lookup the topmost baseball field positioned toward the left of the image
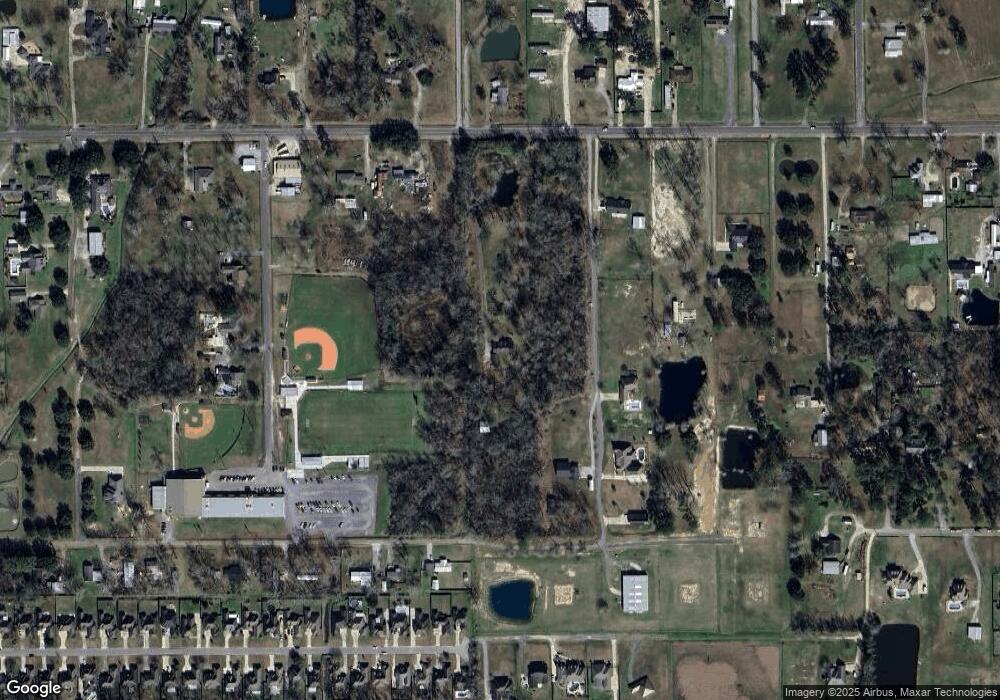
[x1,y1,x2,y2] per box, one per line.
[286,275,381,381]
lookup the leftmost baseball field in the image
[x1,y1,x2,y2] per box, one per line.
[181,404,246,468]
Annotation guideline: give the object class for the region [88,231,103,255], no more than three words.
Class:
barn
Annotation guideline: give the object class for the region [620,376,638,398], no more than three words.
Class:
house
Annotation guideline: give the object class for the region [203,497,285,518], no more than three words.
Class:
building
